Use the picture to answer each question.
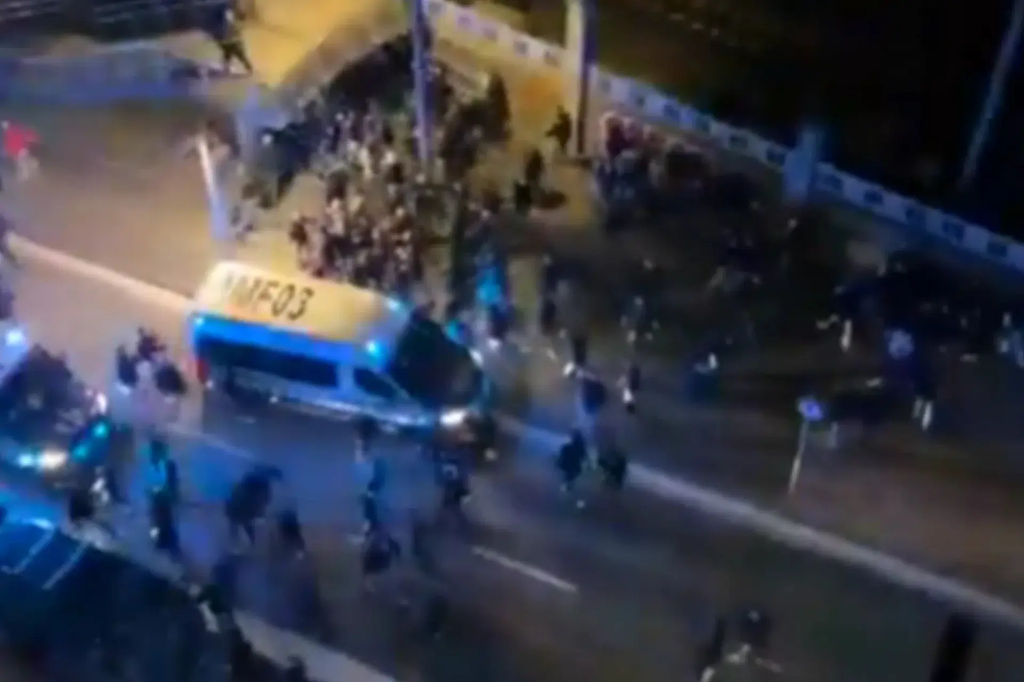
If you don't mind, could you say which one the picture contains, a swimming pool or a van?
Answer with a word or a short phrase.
van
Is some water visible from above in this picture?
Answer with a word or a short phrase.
No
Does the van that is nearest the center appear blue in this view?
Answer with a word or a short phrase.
Yes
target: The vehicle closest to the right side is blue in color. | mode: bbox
[197,254,492,451]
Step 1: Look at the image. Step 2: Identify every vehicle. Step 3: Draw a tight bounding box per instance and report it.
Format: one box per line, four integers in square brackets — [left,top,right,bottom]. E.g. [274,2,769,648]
[0,512,222,682]
[197,254,492,451]
[0,329,121,490]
